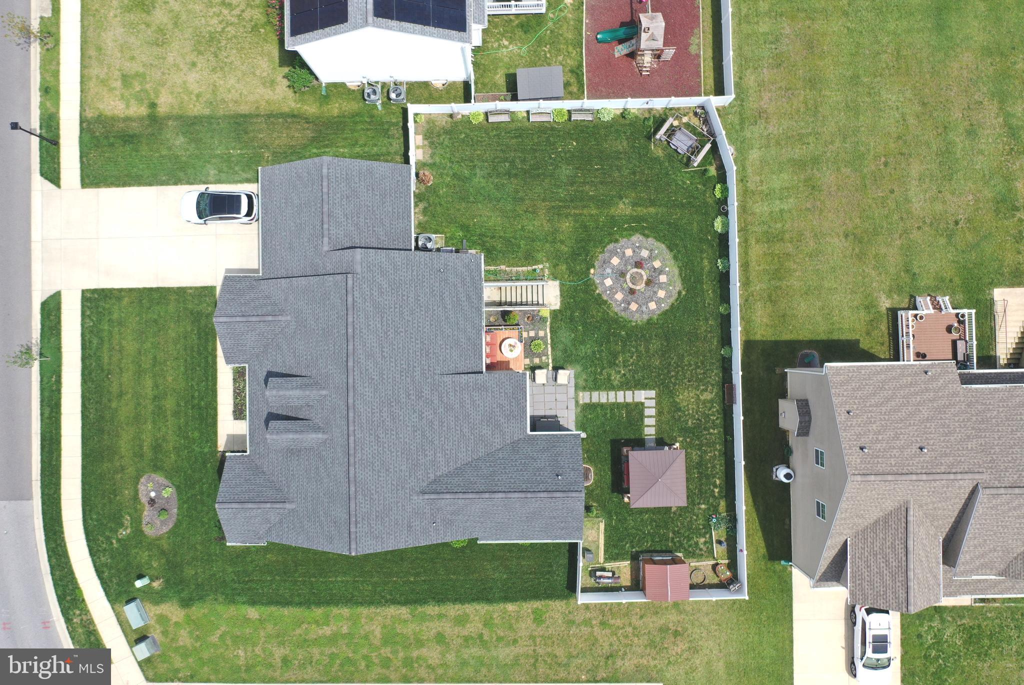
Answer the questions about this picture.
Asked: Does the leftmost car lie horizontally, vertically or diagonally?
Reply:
horizontally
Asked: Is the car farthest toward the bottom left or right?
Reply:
right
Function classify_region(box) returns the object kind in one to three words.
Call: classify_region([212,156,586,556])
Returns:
house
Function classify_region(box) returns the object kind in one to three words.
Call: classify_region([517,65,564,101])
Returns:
shed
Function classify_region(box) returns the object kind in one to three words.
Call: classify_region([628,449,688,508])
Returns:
gazebo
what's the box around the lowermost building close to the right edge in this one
[779,360,1024,613]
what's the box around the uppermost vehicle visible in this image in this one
[180,186,257,226]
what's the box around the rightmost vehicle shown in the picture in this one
[851,604,896,685]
